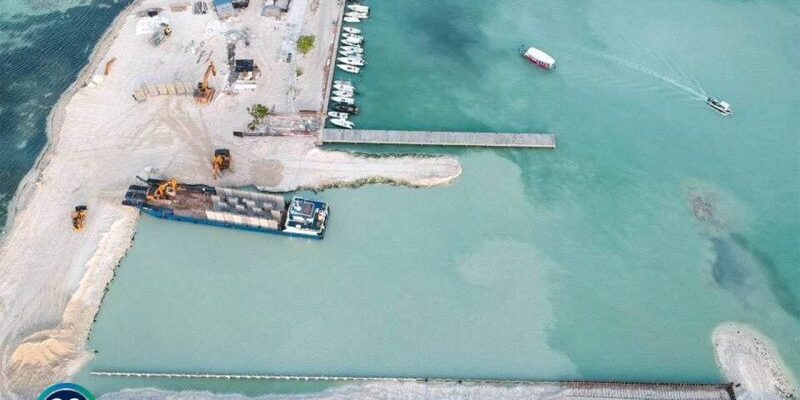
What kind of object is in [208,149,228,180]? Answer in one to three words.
work vehicle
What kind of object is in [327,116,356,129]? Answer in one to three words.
boat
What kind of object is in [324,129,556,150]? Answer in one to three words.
pier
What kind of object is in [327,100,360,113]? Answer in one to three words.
boat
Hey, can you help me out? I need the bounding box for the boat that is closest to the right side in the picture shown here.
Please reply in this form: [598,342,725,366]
[705,95,734,113]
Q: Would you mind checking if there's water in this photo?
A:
Yes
